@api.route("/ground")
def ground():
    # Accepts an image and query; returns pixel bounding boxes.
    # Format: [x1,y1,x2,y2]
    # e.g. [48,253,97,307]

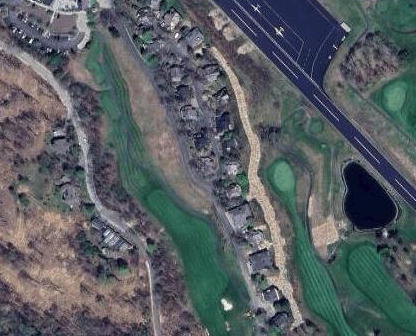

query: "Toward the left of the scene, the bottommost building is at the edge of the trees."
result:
[98,225,132,251]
